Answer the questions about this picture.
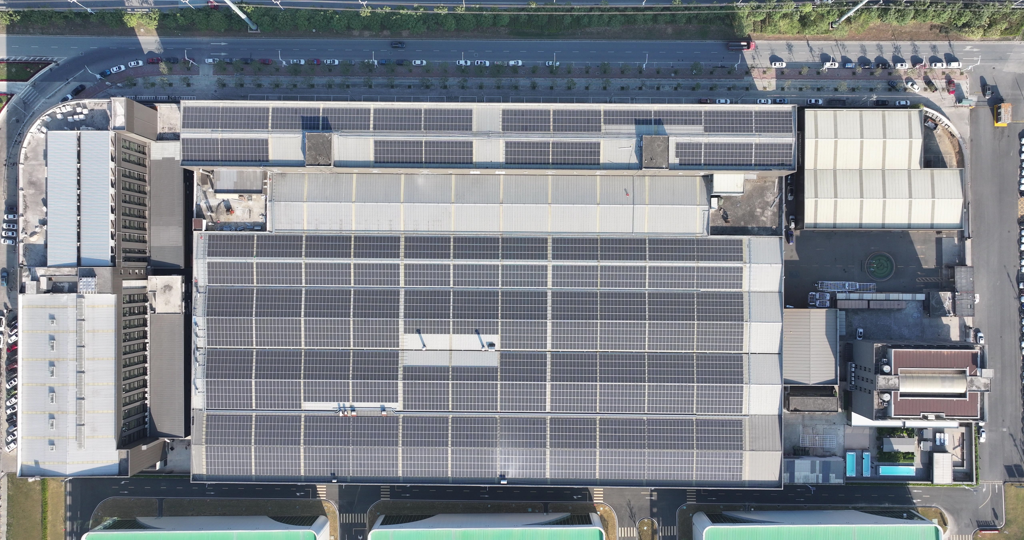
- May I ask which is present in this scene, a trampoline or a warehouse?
warehouse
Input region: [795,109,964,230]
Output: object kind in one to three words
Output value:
warehouse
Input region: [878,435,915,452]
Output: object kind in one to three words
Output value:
building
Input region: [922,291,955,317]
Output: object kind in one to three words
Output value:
building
